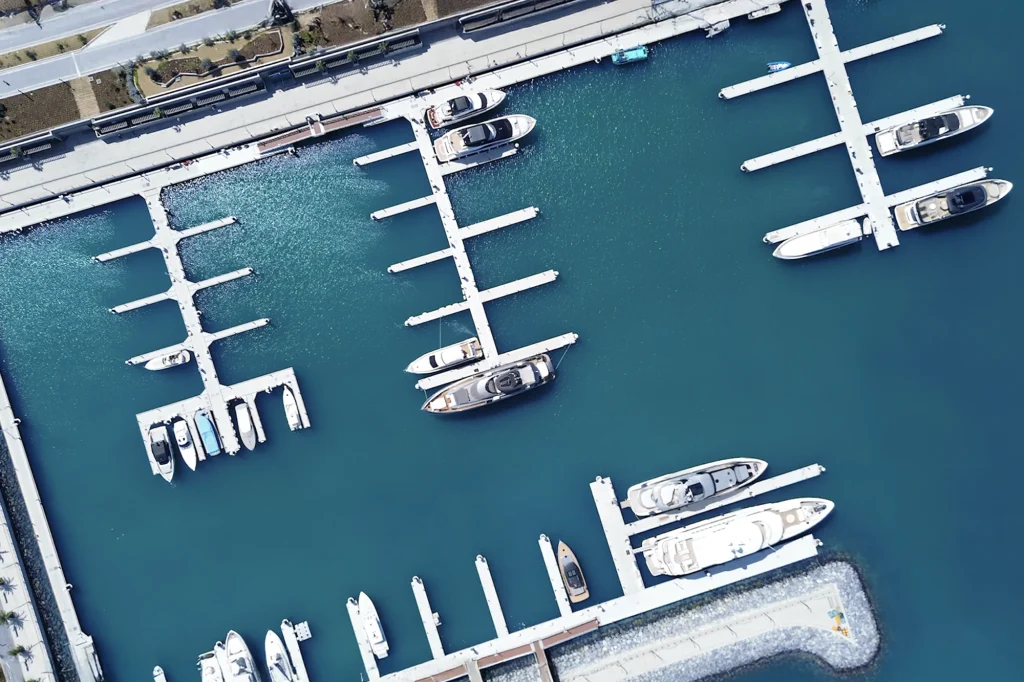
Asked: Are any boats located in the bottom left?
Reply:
Yes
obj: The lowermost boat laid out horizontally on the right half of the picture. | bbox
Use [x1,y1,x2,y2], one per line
[631,499,834,580]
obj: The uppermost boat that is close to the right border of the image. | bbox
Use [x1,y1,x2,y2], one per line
[871,107,995,157]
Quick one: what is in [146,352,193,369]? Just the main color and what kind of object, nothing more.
white boat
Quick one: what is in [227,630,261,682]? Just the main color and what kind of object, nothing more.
white boat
